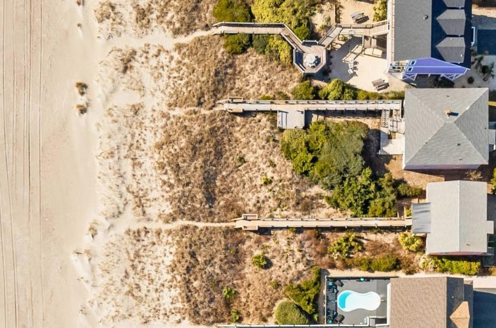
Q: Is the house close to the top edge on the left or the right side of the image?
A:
right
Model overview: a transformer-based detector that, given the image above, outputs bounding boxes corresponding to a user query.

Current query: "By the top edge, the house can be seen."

[378,0,473,86]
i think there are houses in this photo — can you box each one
[378,0,473,86]
[410,180,496,256]
[384,276,474,328]
[381,87,496,172]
